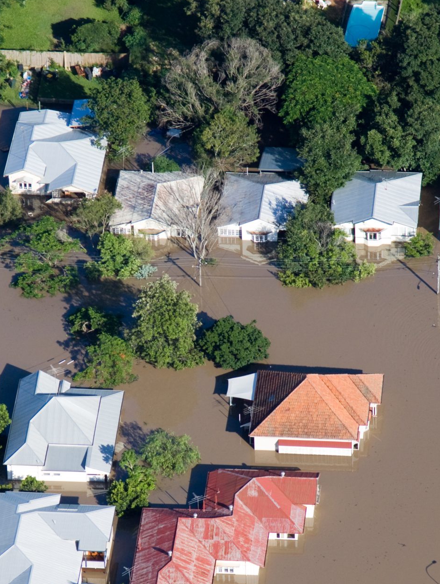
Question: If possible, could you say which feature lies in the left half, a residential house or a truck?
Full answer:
Looking in the left half, you will find a residential house.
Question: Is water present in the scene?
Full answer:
Yes, there is water in the image.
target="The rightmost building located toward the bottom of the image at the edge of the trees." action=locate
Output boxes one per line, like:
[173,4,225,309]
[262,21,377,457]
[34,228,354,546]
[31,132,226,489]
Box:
[241,370,385,456]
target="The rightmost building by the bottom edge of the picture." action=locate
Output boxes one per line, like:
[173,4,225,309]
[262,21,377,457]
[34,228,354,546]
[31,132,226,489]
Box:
[120,469,321,584]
